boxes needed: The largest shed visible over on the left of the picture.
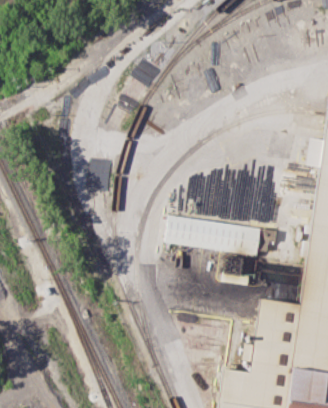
[88,159,112,192]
